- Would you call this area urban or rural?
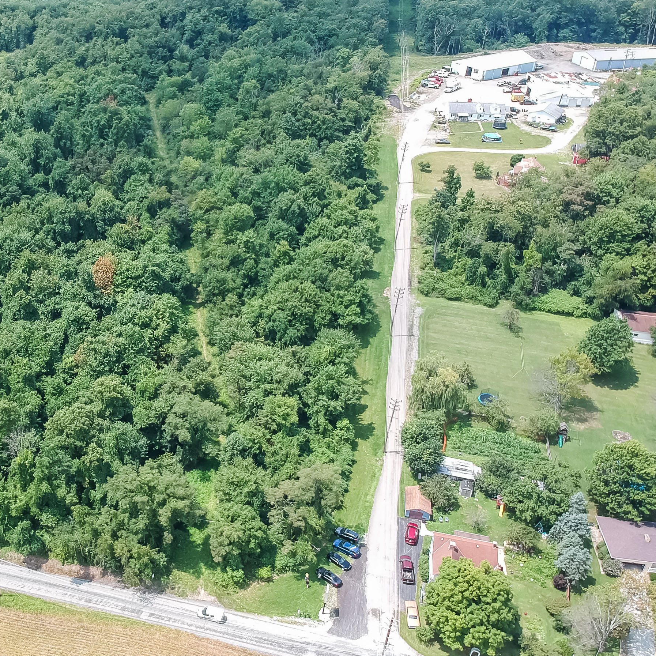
rural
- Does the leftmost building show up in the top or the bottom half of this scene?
bottom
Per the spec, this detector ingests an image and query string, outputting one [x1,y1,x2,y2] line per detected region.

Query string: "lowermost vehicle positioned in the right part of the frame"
[405,598,422,627]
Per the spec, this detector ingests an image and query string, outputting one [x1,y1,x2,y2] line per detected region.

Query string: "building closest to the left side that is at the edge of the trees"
[402,477,437,521]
